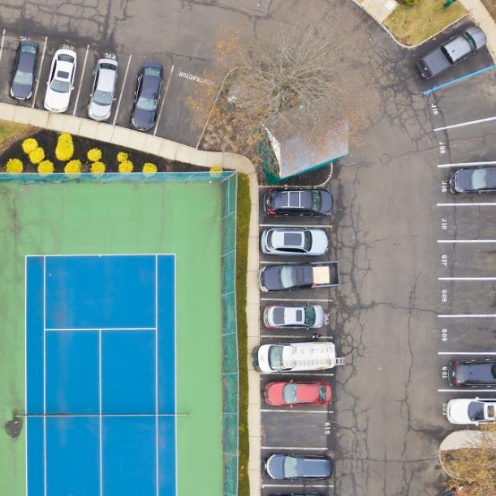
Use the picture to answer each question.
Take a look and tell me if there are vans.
Yes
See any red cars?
Yes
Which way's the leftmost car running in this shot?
from top to bottom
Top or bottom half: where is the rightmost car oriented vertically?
top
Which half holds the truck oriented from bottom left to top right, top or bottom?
top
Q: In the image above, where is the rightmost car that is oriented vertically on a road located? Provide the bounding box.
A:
[128,61,163,132]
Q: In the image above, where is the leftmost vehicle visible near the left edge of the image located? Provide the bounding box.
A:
[7,38,39,103]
